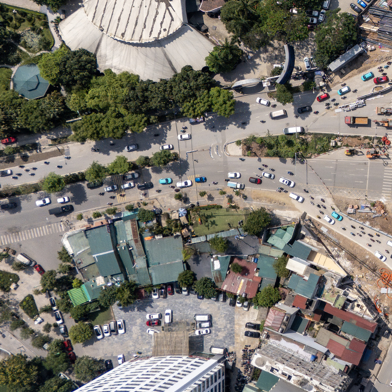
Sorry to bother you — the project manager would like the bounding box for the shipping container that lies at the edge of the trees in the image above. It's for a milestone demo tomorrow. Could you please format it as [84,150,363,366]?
[328,45,367,72]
